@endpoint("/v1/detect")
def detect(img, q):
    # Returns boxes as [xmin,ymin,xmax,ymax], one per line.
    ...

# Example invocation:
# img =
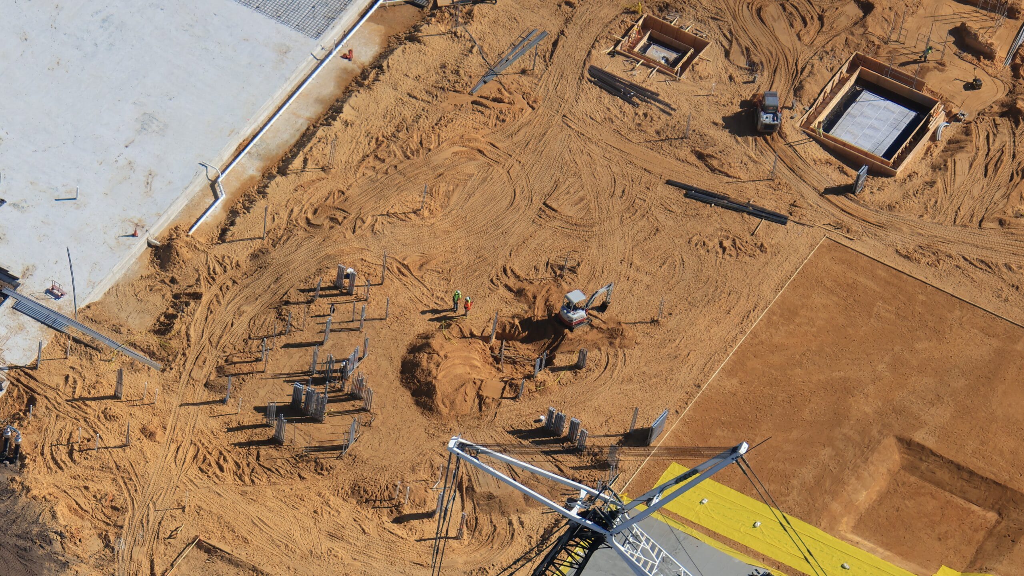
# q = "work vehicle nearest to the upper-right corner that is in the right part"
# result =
[754,86,785,132]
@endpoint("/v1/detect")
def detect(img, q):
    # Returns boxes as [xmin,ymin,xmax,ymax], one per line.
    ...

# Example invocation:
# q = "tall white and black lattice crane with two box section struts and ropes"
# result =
[431,431,826,576]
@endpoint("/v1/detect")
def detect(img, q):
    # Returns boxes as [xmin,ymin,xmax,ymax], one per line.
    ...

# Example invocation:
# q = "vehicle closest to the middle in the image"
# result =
[555,280,616,339]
